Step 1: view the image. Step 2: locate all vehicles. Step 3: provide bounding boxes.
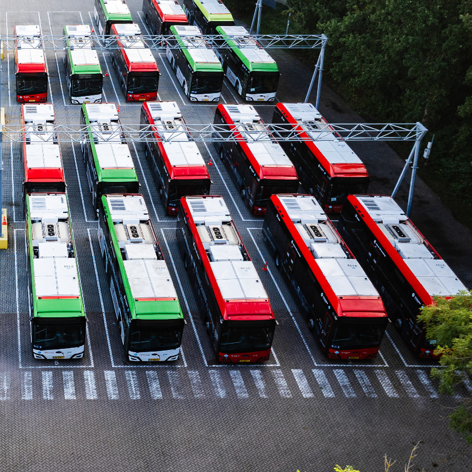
[96,0,136,49]
[262,196,394,358]
[110,25,161,100]
[173,196,280,359]
[340,196,472,358]
[18,104,67,214]
[145,0,191,49]
[184,0,237,49]
[213,104,301,214]
[164,25,226,100]
[214,25,282,100]
[273,104,375,214]
[101,198,188,359]
[140,104,215,214]
[60,26,105,101]
[26,196,89,358]
[14,26,50,101]
[80,104,142,214]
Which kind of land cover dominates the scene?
paved ground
